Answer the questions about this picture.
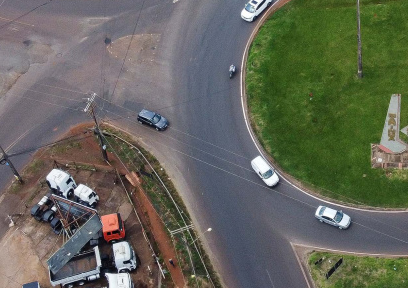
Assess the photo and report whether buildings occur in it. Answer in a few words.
No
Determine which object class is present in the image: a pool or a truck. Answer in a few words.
truck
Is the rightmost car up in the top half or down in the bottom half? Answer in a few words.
bottom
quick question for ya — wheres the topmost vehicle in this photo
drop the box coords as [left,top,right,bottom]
[242,0,271,20]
